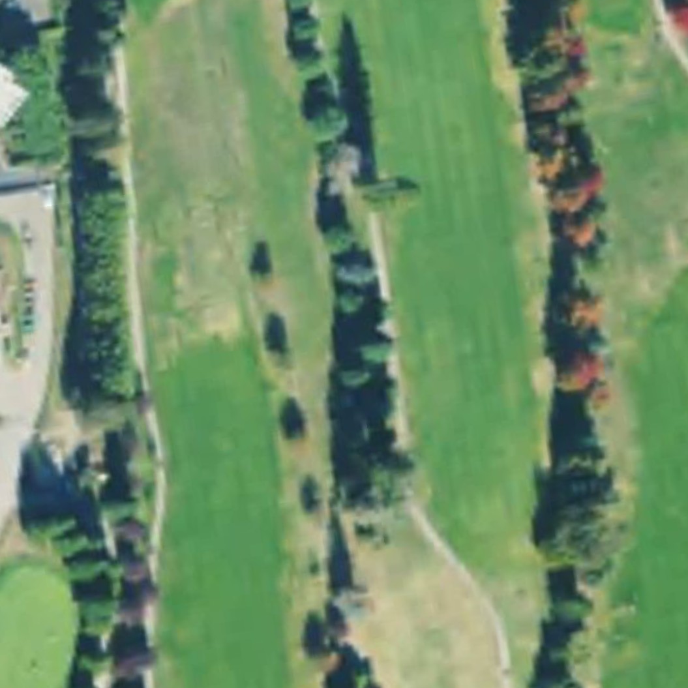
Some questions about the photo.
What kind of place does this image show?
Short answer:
golf course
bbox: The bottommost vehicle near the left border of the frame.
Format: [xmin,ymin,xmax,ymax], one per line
[14,348,32,362]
